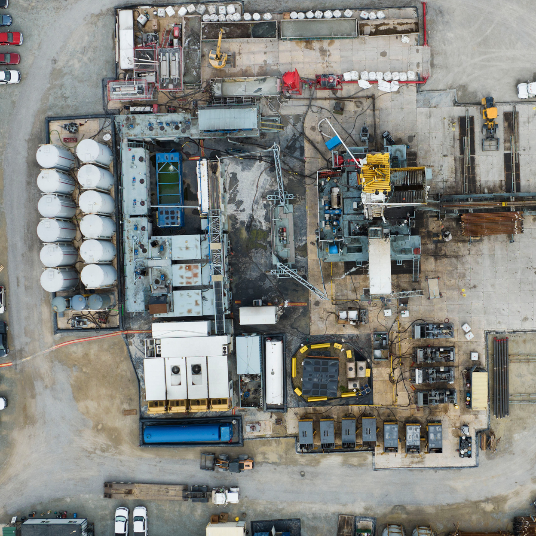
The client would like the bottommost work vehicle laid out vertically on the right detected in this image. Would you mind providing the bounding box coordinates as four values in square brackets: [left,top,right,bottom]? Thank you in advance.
[479,95,499,151]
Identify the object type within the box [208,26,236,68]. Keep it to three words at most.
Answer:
work vehicle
